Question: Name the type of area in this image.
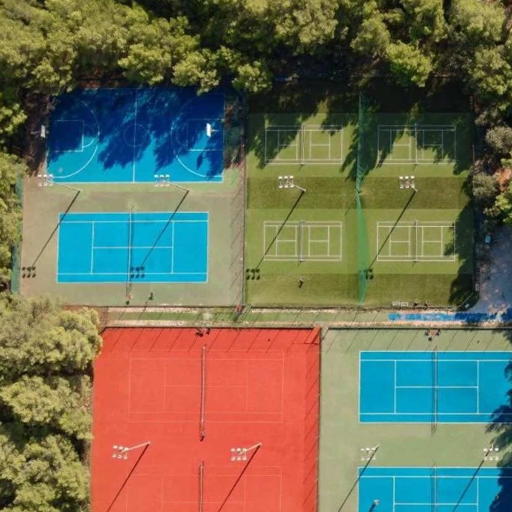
sports ground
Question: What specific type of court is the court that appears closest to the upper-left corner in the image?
basketball court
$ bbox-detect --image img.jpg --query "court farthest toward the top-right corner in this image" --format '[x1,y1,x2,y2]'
[378,126,456,163]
